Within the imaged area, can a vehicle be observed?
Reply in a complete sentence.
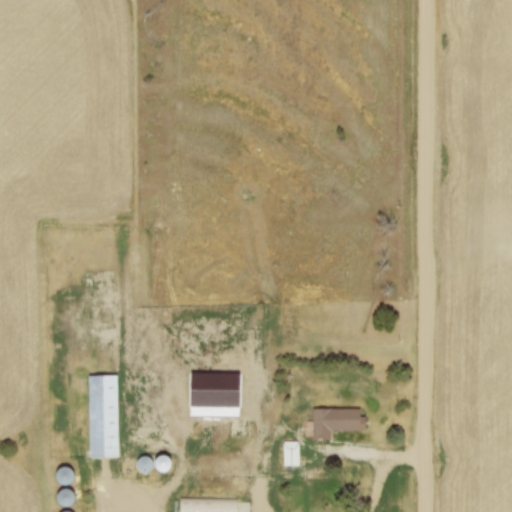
No, no vehicle can be seen from above.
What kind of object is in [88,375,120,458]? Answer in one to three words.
barn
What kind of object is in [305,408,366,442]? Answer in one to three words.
house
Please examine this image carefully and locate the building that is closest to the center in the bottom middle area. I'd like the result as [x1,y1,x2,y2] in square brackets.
[190,372,242,421]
